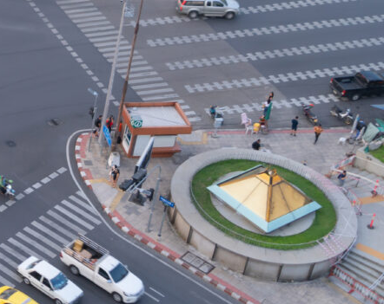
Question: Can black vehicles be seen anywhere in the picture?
Yes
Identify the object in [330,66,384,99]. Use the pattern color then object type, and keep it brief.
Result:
black truck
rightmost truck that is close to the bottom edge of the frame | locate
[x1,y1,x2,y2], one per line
[62,232,145,301]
